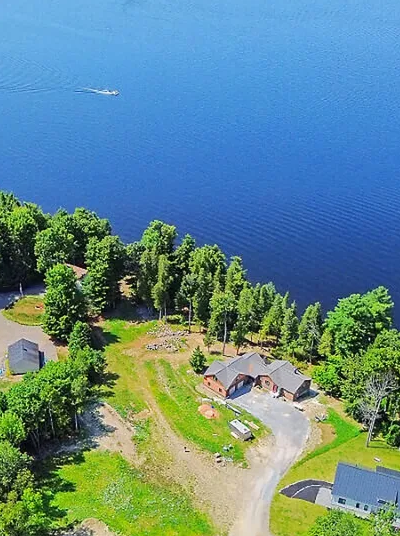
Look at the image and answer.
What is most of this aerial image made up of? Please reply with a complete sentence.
The bulk of the photo consists of water.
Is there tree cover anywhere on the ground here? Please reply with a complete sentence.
Yes, some tree cover is visible.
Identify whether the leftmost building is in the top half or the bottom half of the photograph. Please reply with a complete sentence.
The leftmost building is in the bottom half of the image.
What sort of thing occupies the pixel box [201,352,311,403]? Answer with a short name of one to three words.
house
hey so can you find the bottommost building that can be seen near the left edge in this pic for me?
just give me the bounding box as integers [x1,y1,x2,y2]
[10,337,42,373]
